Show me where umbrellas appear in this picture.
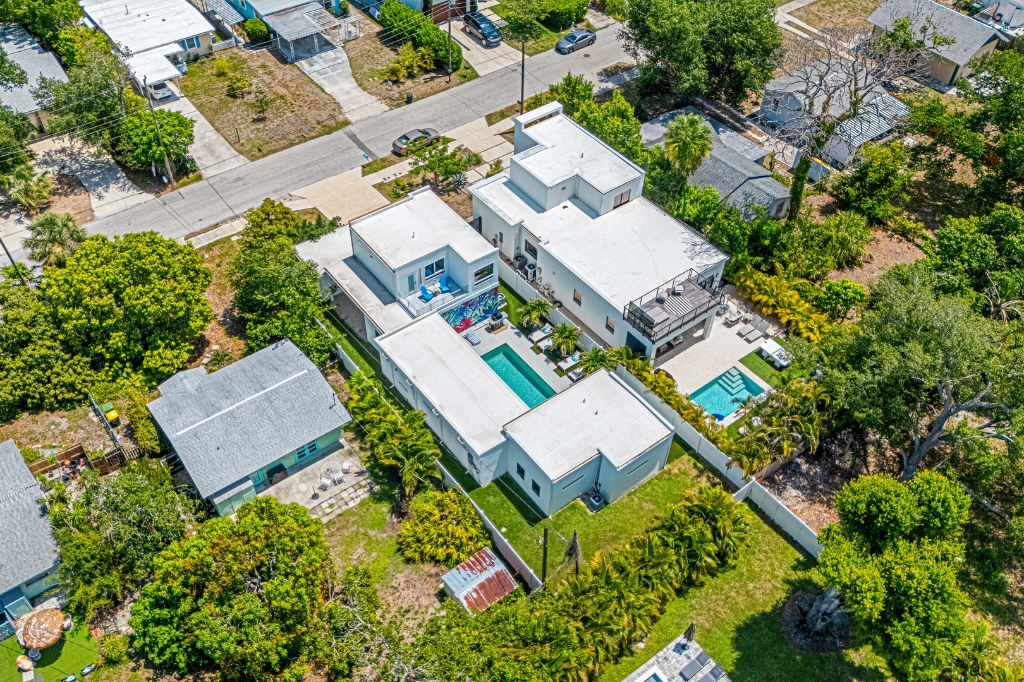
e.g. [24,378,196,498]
[18,606,71,654]
[682,627,695,650]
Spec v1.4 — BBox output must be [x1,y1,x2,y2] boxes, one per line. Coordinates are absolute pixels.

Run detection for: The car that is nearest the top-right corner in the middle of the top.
[557,30,595,52]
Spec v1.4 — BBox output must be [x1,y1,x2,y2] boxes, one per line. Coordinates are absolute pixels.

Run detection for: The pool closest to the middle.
[483,345,556,408]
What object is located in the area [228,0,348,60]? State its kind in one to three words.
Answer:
house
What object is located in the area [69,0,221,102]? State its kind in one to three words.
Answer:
house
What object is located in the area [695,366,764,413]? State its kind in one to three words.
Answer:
swimming pool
